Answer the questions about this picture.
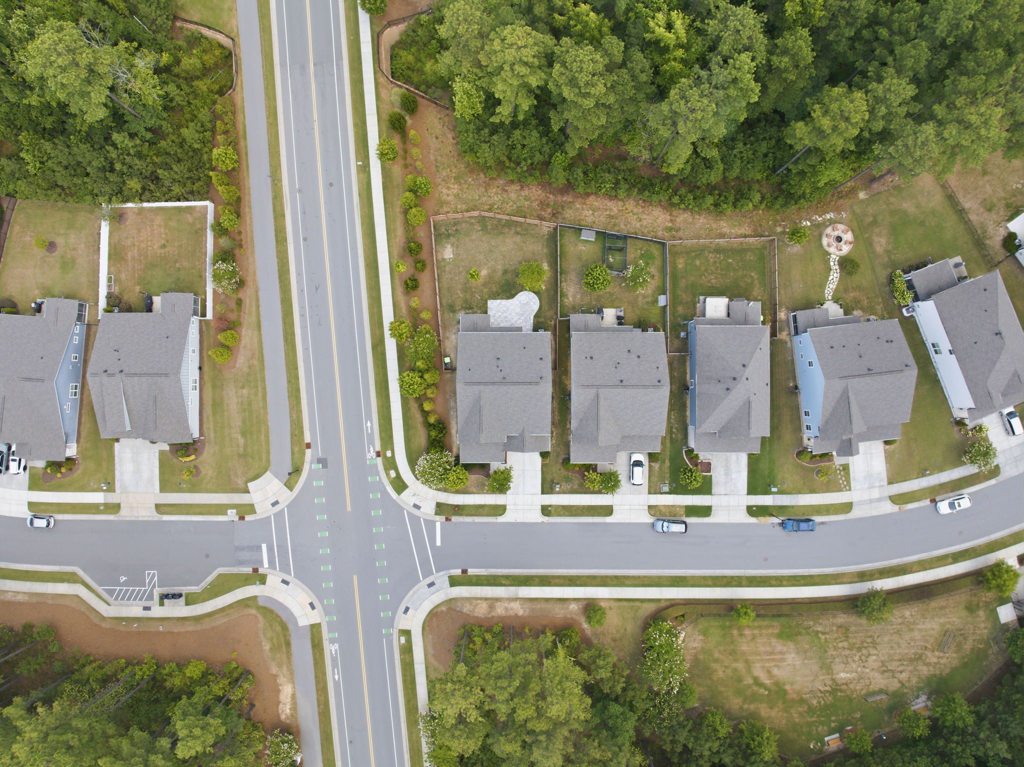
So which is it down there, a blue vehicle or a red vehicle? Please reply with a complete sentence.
Of the two, only a blue vehicle appears.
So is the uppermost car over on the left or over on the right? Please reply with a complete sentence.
You can find the uppermost car on the right side of the picture.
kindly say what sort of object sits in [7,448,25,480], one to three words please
car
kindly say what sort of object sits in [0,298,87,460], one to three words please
house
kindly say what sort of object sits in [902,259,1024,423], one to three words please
house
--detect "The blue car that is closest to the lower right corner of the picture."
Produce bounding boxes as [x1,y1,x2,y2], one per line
[783,519,817,535]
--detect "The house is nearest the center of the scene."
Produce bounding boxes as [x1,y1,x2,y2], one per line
[457,313,553,463]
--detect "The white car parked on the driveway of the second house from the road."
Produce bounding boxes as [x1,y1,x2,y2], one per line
[630,453,646,486]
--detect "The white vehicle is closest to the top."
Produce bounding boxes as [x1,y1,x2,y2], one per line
[1001,406,1024,440]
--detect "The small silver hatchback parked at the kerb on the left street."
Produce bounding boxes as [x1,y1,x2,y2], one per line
[24,515,53,531]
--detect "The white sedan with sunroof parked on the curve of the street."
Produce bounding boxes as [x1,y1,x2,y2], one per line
[937,495,975,515]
